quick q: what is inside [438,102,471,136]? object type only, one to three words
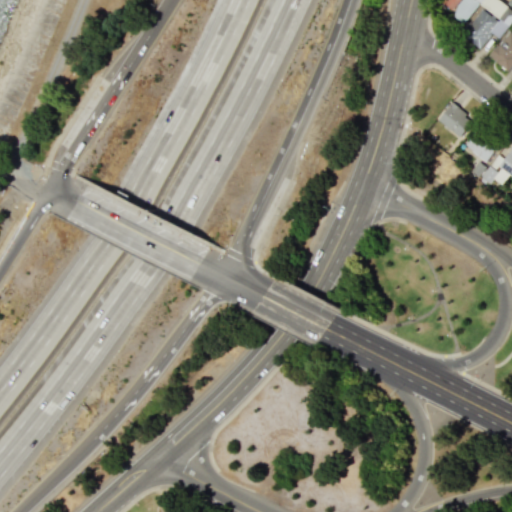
house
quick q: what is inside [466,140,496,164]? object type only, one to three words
house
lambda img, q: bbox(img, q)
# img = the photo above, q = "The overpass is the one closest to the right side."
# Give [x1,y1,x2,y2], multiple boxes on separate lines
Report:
[254,280,342,346]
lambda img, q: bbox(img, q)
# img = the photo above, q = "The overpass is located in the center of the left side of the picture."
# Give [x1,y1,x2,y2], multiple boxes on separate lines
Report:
[66,175,212,280]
